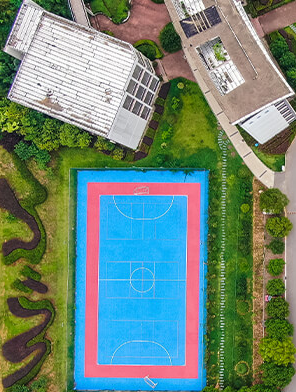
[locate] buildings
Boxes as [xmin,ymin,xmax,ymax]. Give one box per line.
[5,0,159,147]
[170,0,296,144]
